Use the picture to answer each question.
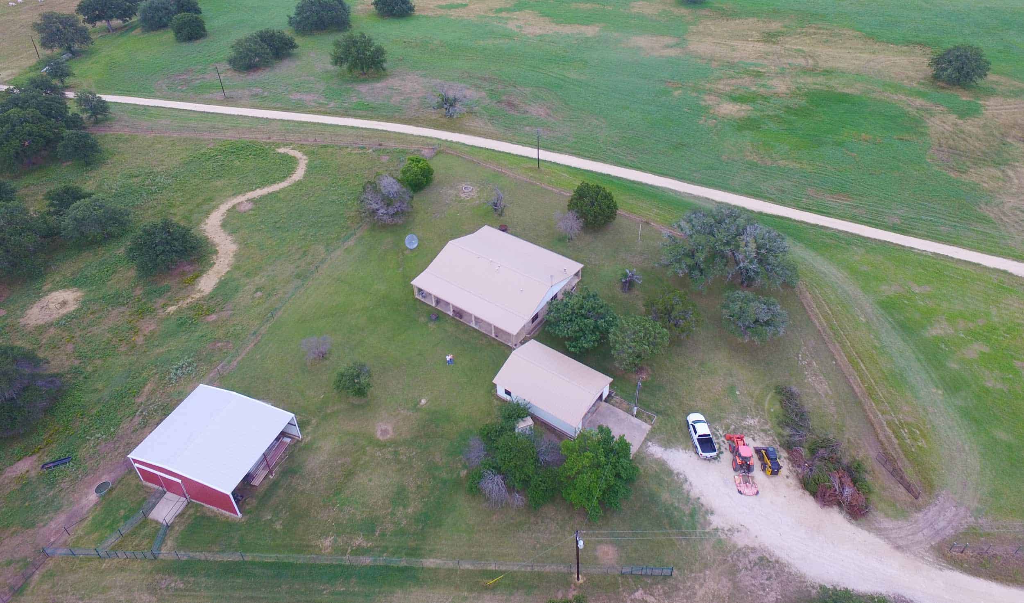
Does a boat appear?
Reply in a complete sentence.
No, no boat can be seen from above.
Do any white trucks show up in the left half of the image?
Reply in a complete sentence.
No, no white truck is visible in the left half of the image.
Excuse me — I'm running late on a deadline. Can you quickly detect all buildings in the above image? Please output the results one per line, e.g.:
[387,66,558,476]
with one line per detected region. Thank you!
[128,383,301,518]
[411,225,585,349]
[492,340,614,439]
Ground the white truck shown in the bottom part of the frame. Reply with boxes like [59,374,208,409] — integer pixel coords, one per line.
[687,416,720,463]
